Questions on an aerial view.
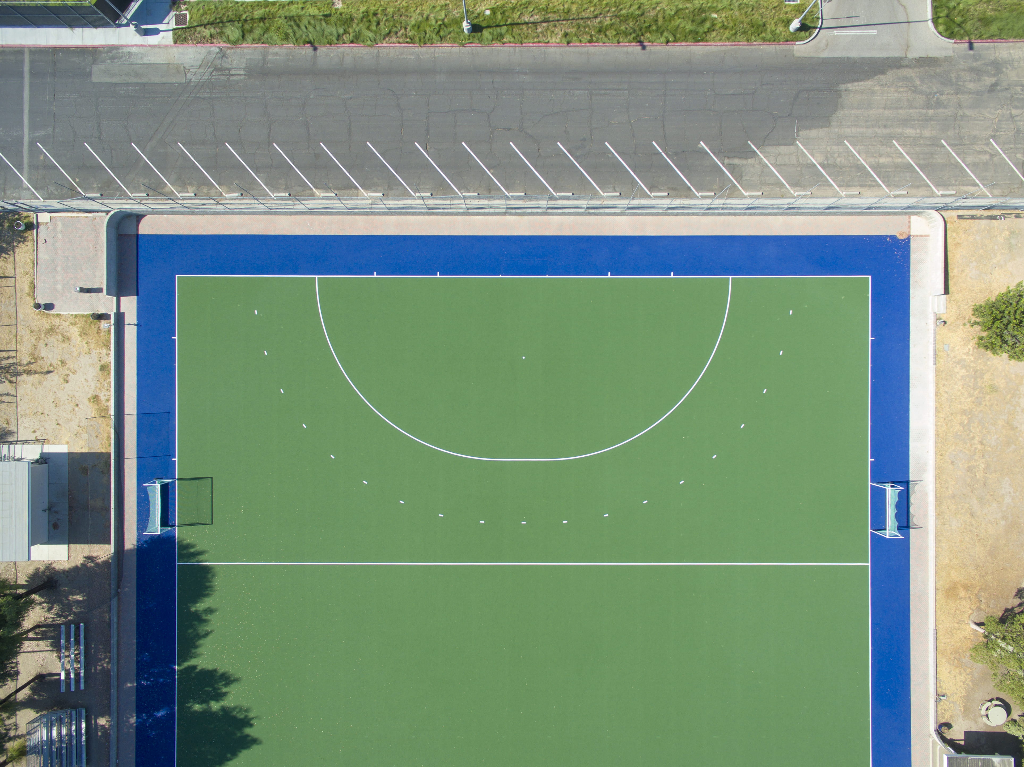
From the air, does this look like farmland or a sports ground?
sports ground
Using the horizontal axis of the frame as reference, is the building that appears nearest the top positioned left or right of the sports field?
left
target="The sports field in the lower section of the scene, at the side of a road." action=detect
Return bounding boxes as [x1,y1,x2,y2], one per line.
[176,276,871,767]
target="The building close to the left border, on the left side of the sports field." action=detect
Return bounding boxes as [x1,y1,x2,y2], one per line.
[0,461,48,561]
